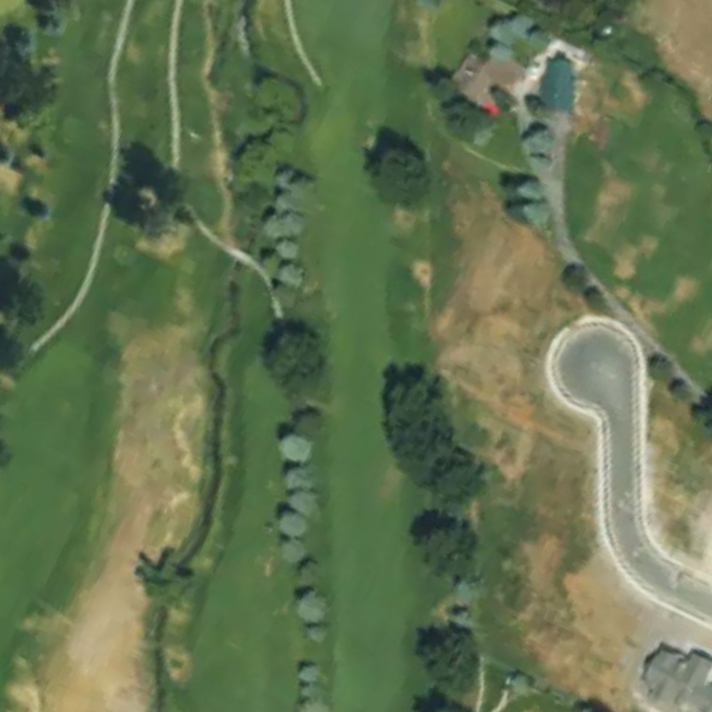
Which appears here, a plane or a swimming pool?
swimming pool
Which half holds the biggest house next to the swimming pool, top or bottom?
top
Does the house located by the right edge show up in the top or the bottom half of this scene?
bottom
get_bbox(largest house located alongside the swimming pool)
[451,52,528,108]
